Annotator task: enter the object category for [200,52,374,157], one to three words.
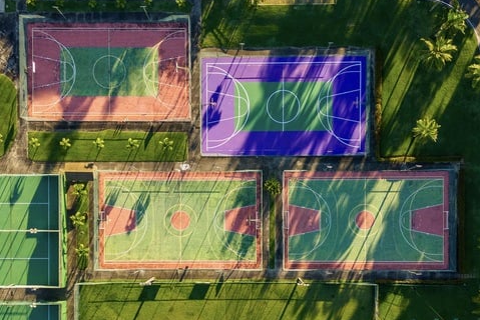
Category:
sports court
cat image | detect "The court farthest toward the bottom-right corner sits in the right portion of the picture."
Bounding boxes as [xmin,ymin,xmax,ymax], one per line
[283,170,457,272]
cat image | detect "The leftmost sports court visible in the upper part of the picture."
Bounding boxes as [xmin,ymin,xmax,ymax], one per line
[19,15,193,122]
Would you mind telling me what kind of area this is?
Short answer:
sports ground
